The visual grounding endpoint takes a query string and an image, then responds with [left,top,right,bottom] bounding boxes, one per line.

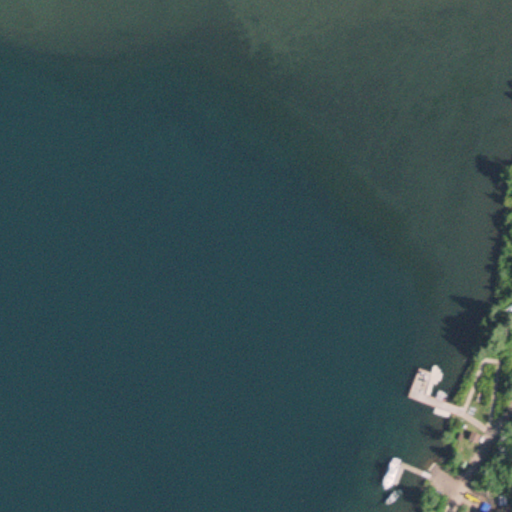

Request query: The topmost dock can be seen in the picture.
[408,368,486,433]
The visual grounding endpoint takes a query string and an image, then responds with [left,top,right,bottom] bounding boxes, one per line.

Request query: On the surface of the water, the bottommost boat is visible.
[385,489,402,504]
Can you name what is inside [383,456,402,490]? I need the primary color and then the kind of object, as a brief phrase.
white boat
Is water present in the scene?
Yes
